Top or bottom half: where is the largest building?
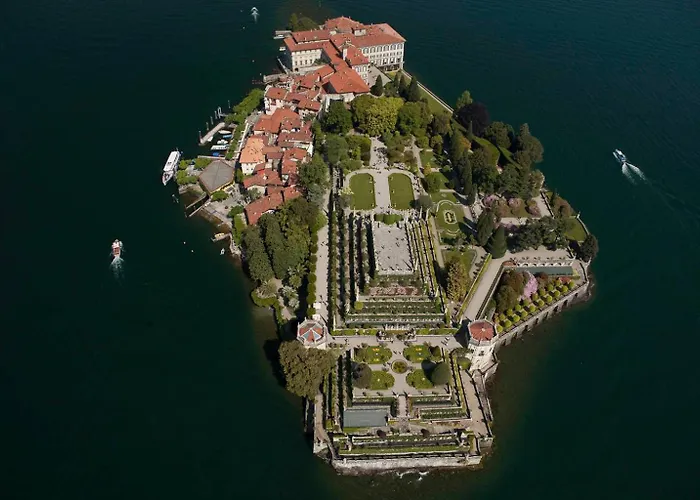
top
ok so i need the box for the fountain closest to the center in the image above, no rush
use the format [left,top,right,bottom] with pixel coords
[392,359,408,374]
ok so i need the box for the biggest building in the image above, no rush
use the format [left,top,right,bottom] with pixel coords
[285,18,406,105]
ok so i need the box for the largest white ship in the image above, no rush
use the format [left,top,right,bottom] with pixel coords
[162,148,182,185]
